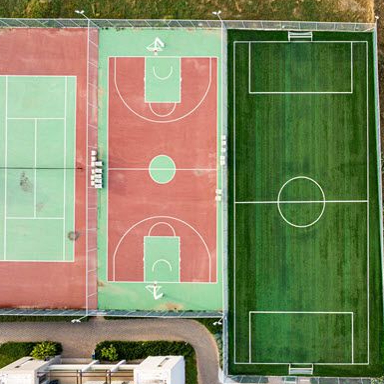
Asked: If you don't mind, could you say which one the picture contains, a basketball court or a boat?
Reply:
basketball court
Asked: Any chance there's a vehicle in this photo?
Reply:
No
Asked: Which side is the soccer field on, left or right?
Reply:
right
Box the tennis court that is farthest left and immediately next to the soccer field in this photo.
[0,27,98,310]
